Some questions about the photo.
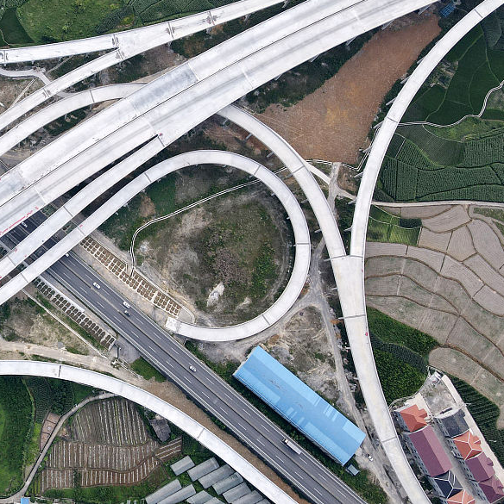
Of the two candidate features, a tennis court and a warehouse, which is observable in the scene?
warehouse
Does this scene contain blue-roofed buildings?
Yes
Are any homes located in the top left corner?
No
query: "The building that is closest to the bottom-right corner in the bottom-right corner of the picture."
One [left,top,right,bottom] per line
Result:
[469,476,504,503]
